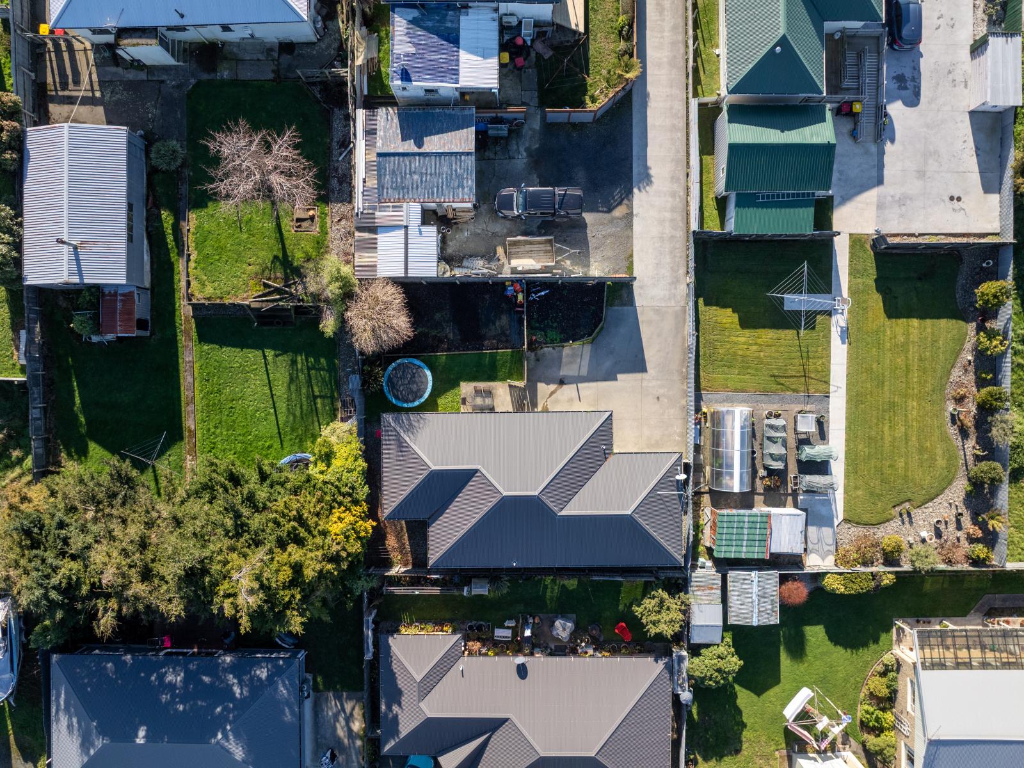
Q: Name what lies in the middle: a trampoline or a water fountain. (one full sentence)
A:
The one visible in the middle is a trampoline.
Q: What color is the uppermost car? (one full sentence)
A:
In this view, the uppermost car is blue.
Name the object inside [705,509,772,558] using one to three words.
shed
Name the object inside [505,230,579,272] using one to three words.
trailer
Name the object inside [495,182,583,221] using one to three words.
truck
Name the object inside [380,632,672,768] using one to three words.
house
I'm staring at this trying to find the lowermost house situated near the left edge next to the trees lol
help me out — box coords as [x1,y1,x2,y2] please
[48,632,315,768]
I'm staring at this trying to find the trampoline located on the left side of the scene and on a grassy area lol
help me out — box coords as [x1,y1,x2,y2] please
[384,357,433,407]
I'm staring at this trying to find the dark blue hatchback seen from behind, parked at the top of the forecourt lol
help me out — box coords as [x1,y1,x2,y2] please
[883,0,925,55]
